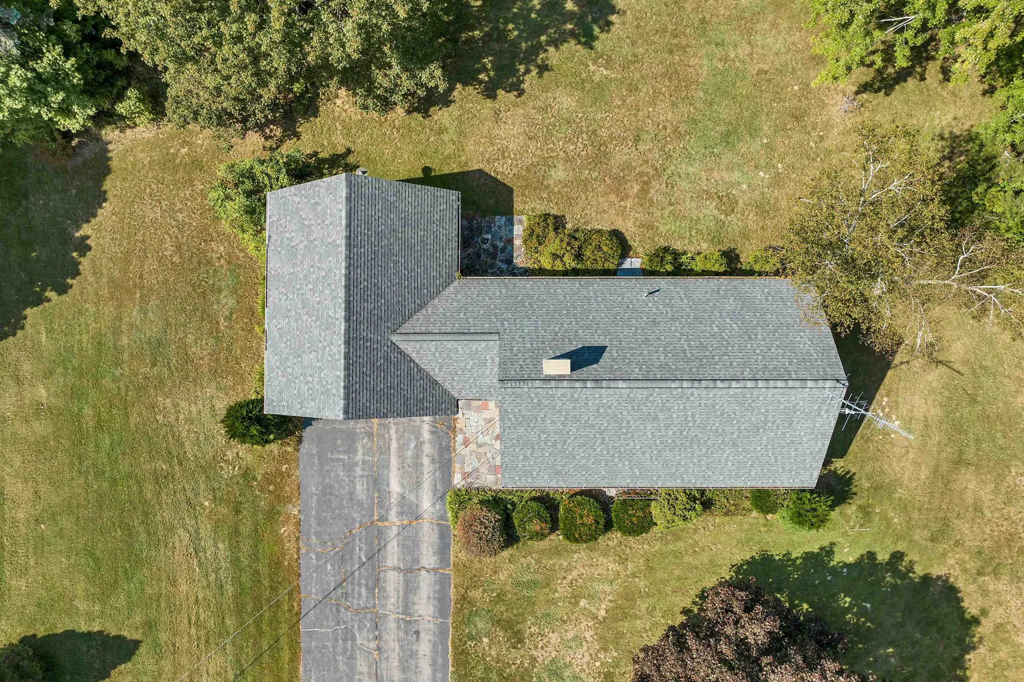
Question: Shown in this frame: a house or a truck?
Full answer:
Visible in the photo is a house.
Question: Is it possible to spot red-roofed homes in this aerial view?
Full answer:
No, I find no red-roofed home anywhere in the image.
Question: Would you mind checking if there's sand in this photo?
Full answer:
No, there's no sand in this view.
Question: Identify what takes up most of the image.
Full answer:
The scene is dominated by grass.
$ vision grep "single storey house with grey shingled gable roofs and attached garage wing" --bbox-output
[263,172,848,491]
